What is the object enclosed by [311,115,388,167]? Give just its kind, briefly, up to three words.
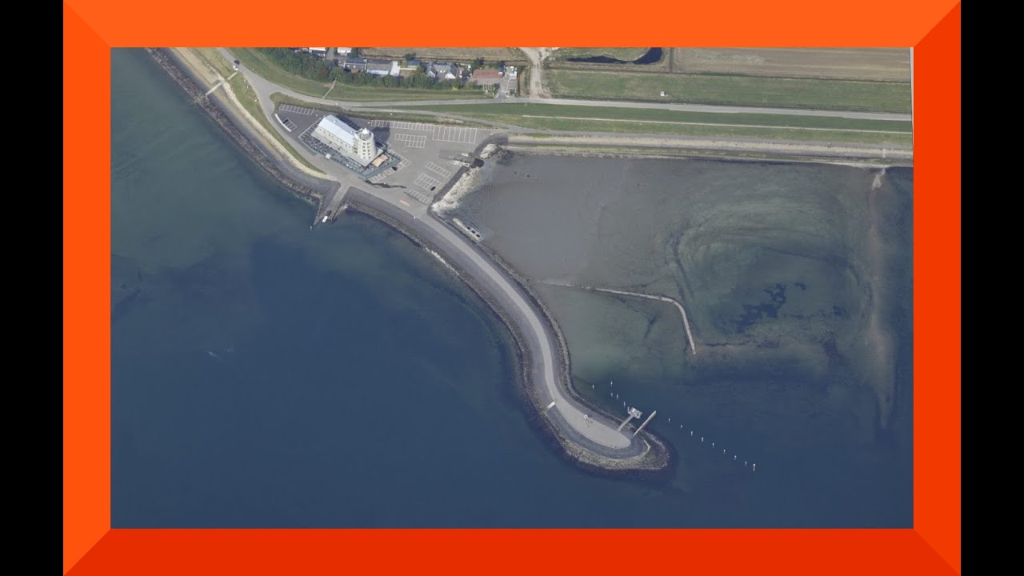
building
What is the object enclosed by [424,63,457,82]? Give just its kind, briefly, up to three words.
house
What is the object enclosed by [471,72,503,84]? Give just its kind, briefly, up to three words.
house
